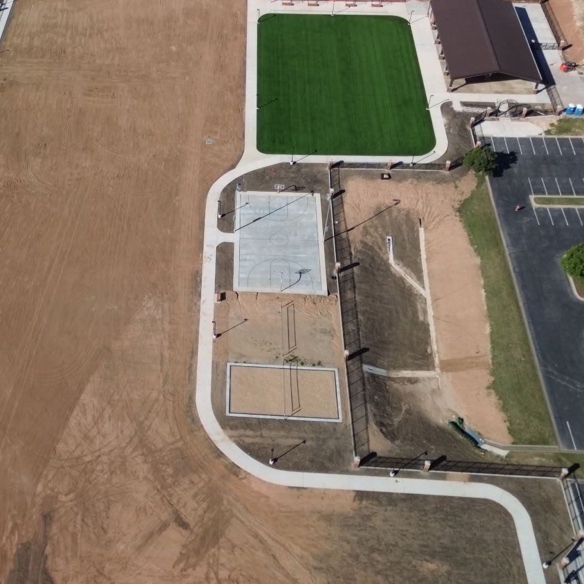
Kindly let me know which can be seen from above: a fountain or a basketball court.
basketball court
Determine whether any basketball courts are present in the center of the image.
Yes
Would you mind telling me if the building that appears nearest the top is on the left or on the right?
right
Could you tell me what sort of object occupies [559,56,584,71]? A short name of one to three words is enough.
work vehicle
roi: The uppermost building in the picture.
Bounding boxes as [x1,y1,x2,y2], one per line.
[426,0,541,91]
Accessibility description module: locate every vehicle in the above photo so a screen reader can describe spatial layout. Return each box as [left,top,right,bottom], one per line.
[559,56,584,71]
[446,417,465,429]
